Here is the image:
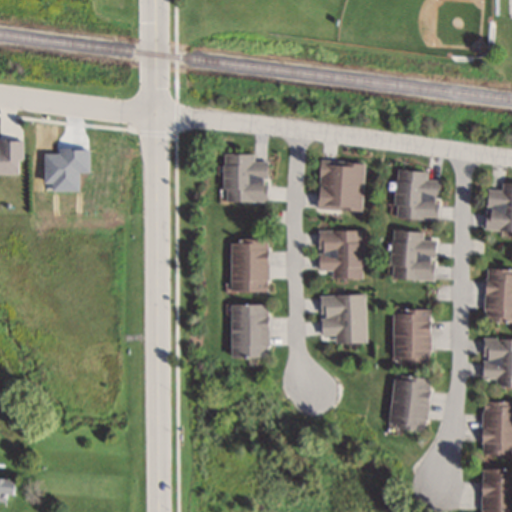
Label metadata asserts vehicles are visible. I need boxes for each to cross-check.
[435,166,440,178]
[468,423,480,428]
[431,406,442,411]
[429,169,434,179]
[270,339,283,344]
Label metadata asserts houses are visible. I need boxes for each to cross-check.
[486,268,512,320]
[317,159,367,212]
[483,402,512,462]
[226,303,269,360]
[220,154,268,206]
[0,480,16,509]
[226,238,269,294]
[484,338,512,388]
[390,377,432,432]
[394,309,432,364]
[394,230,436,281]
[44,148,90,192]
[0,136,19,176]
[322,294,368,345]
[388,170,442,220]
[486,183,512,232]
[320,230,364,280]
[483,468,512,512]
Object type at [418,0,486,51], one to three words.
baseball field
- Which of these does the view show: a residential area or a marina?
residential area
